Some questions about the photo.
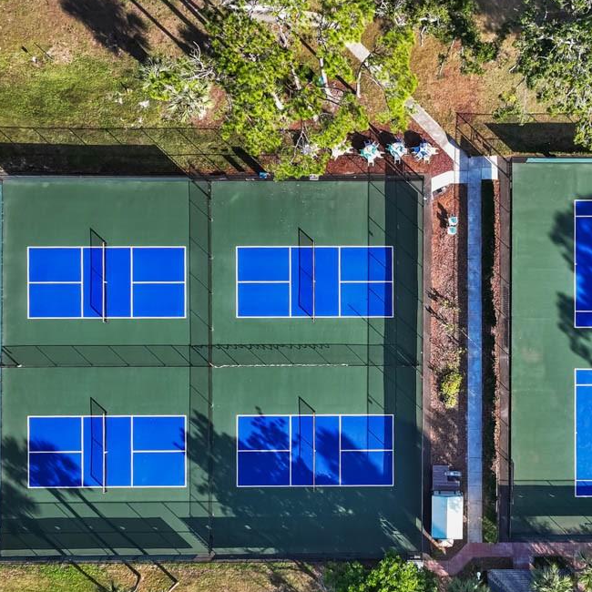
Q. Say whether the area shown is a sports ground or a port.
sports ground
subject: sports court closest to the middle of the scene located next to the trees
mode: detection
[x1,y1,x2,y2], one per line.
[211,182,424,367]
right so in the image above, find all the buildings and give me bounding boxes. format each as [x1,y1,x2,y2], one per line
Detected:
[433,492,464,541]
[488,565,556,592]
